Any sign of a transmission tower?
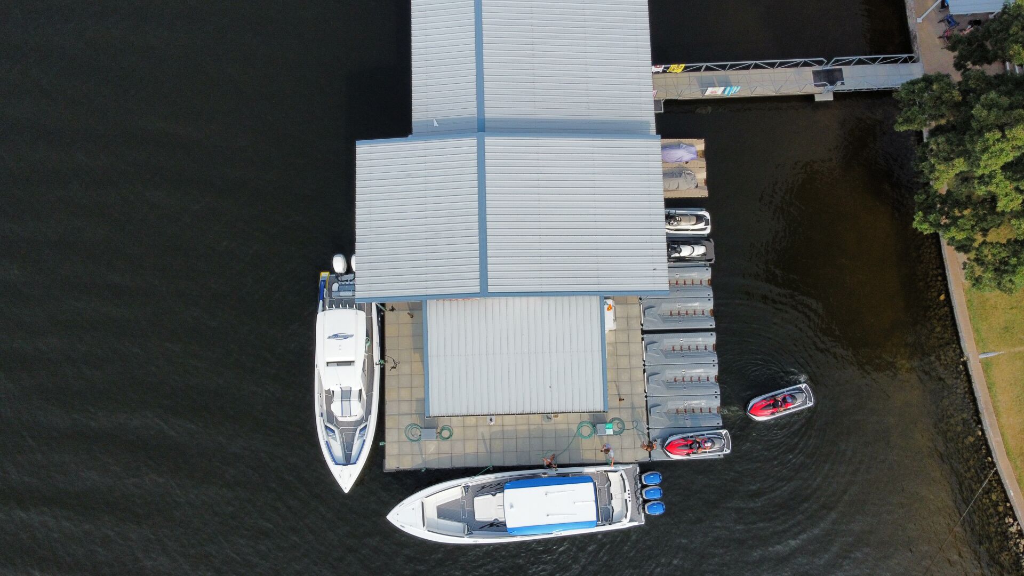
No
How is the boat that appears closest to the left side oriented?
from top to bottom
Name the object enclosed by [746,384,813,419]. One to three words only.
boat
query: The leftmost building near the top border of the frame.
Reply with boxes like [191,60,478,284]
[411,0,657,137]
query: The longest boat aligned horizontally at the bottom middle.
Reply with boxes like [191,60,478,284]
[384,464,665,543]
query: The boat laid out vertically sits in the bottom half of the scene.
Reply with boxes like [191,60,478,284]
[314,255,380,492]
